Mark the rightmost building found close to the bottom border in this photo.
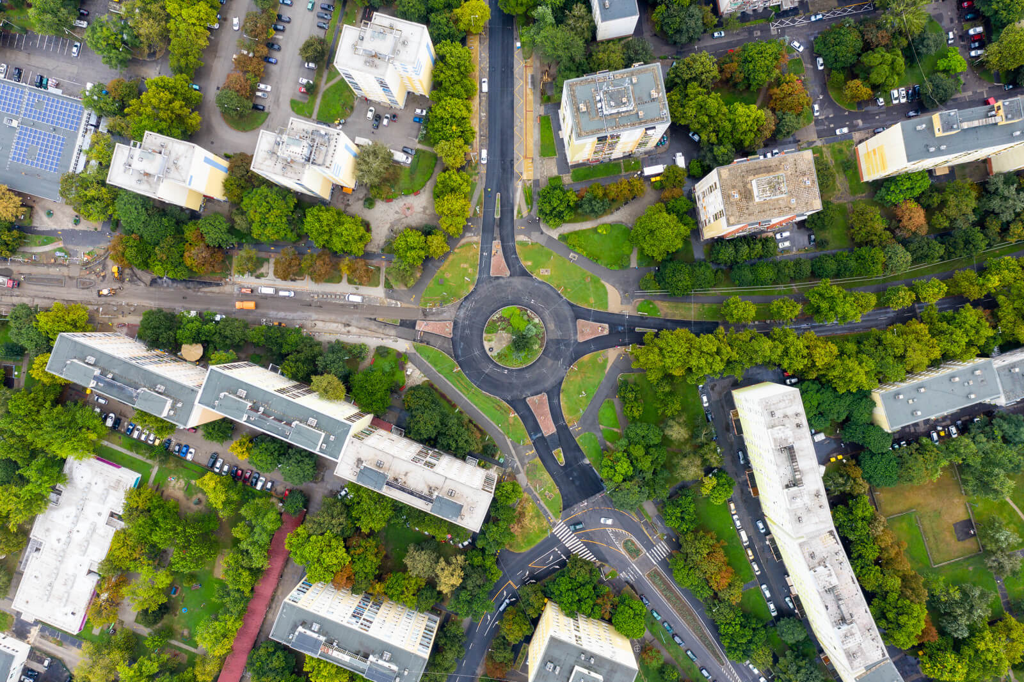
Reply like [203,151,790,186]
[524,600,638,682]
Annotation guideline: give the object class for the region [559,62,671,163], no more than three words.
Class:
building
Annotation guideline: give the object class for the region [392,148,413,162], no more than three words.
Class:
vehicle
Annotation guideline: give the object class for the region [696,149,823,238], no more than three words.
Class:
building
